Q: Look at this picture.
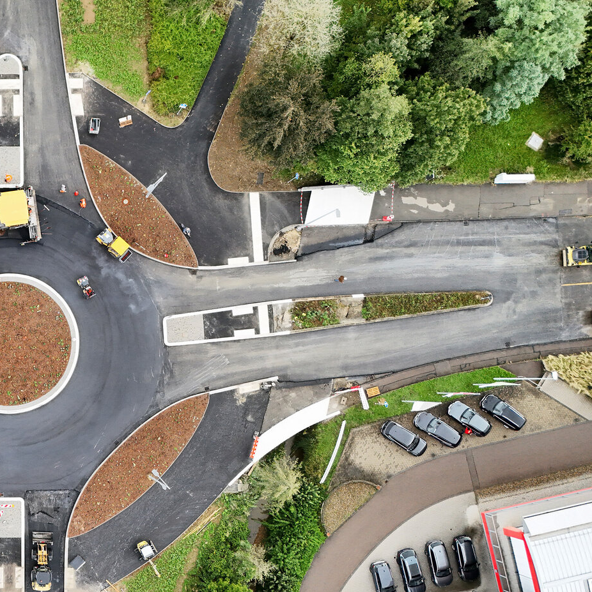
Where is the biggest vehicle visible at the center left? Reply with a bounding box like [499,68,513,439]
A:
[93,225,139,267]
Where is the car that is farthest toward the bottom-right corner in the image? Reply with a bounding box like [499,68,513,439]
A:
[452,532,483,581]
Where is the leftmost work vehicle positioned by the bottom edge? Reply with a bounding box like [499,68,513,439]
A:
[31,536,54,592]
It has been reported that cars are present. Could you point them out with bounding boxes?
[410,412,465,452]
[477,392,531,434]
[394,545,427,592]
[379,418,425,458]
[452,532,483,581]
[442,399,496,440]
[368,557,399,592]
[422,537,454,587]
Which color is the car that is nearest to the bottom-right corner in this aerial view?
black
